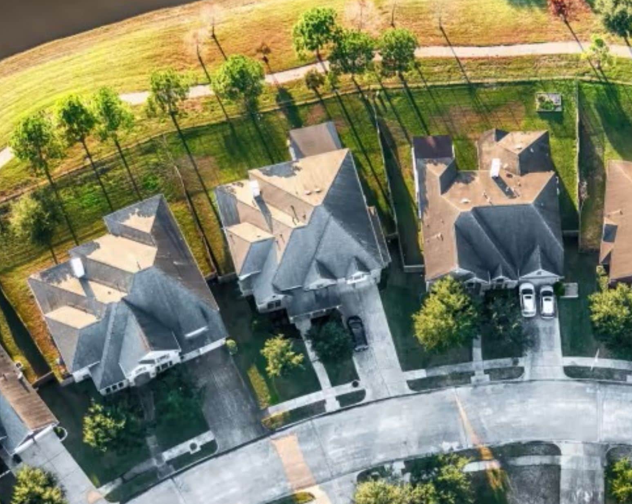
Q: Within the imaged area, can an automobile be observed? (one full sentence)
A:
Yes, the picture does show an automobile.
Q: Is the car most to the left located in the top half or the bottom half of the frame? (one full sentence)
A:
The car most to the left is in the bottom half of the image.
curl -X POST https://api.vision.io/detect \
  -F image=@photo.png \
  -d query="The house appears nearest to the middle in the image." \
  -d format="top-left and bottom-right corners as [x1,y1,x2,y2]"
[214,122,390,327]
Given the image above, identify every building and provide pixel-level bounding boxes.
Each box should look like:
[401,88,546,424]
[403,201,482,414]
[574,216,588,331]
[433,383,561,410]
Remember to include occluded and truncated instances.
[600,160,632,291]
[0,345,60,460]
[214,122,390,327]
[411,129,564,289]
[28,194,227,397]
